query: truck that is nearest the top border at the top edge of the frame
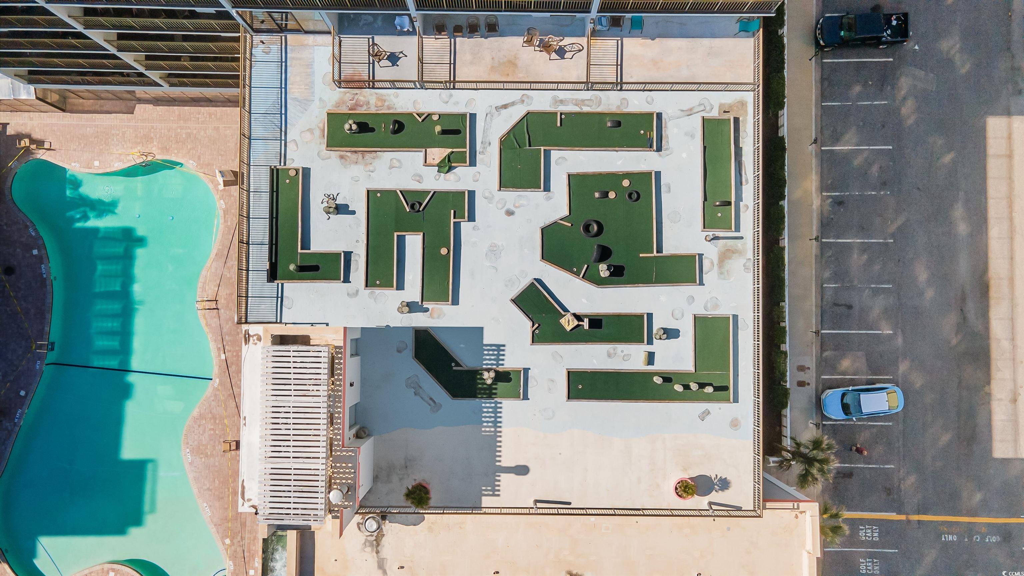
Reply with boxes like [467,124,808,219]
[811,8,910,50]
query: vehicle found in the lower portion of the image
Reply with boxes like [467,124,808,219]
[820,382,905,420]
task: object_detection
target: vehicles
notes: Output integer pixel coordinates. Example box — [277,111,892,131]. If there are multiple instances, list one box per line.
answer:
[820,382,905,420]
[811,8,910,50]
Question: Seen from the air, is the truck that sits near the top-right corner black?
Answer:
Yes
